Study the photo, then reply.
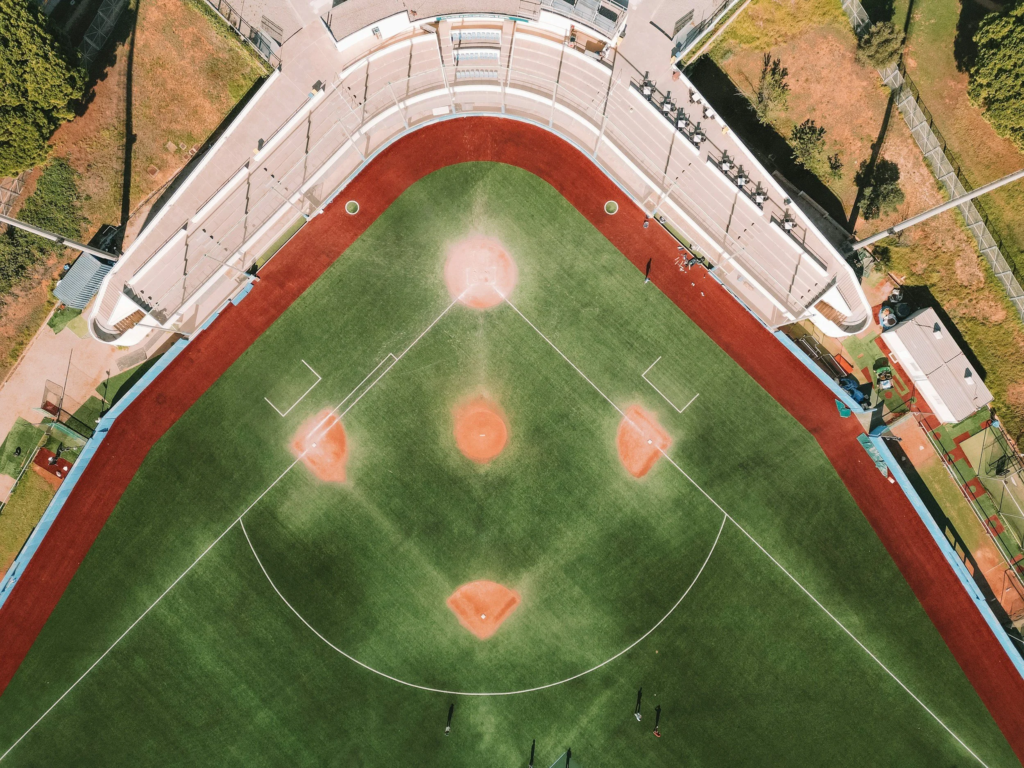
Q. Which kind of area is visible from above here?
sports ground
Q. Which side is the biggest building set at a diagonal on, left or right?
right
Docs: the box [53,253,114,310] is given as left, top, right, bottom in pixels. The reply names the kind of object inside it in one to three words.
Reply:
shed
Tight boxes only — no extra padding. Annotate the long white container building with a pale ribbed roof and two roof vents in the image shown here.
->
[883,307,994,423]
